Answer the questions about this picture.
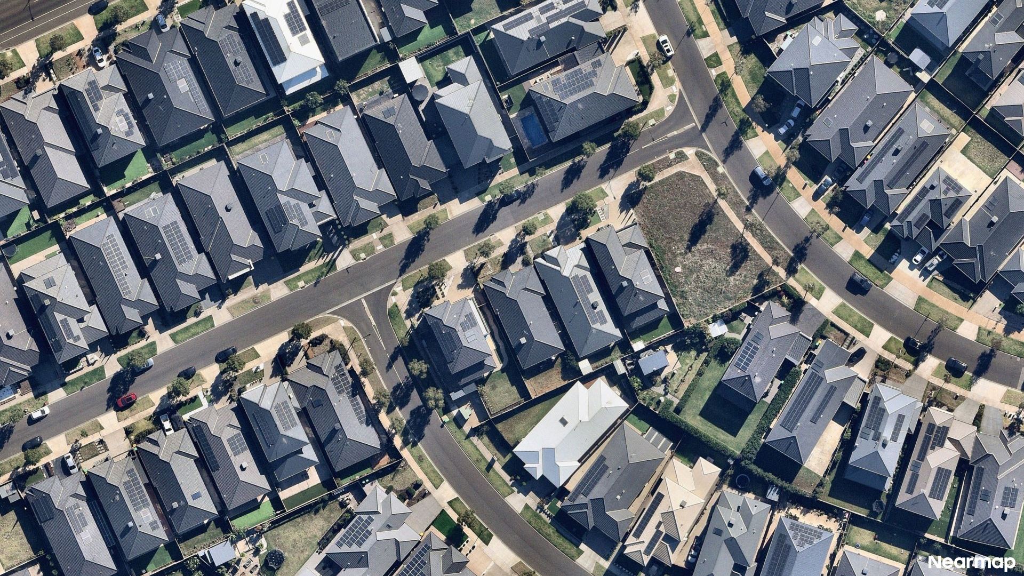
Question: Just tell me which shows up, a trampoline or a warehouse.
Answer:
trampoline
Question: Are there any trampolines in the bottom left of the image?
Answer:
Yes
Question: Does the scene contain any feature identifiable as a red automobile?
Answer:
Yes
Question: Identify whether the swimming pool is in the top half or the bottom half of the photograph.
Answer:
top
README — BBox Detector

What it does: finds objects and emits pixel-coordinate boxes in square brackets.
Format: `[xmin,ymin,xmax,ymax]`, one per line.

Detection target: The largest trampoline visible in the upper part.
[412,84,428,100]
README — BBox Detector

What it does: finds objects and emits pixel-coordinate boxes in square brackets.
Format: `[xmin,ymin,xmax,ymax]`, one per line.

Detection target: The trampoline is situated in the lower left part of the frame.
[266,550,284,568]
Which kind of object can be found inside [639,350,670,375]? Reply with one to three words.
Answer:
shed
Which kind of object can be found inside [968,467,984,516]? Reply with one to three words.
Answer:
solar array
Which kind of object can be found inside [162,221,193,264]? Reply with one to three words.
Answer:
solar array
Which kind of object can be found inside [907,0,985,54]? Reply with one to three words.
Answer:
house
